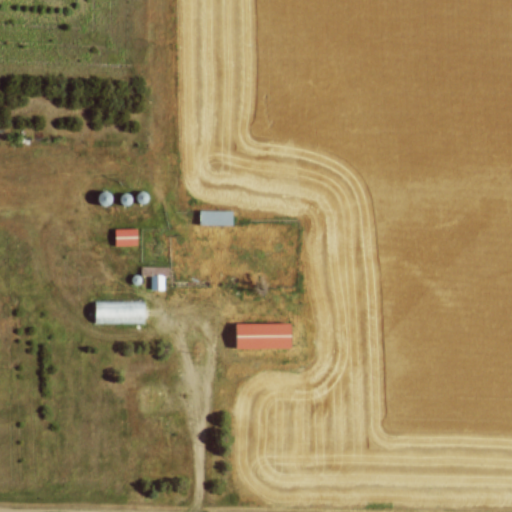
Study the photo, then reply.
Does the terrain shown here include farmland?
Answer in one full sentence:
Yes, farmland shows up in the scene.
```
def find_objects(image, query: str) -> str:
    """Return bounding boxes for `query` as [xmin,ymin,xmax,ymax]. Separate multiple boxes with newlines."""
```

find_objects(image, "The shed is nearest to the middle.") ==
[200,211,234,226]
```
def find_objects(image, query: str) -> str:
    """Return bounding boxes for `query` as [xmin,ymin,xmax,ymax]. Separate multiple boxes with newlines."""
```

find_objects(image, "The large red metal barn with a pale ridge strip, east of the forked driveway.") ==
[236,324,292,350]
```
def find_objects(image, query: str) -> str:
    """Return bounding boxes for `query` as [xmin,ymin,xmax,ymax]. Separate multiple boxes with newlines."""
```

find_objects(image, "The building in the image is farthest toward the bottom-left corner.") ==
[95,301,148,325]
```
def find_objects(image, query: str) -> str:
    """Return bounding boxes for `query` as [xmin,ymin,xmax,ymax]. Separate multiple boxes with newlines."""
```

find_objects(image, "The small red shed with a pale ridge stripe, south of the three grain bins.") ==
[114,229,139,247]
